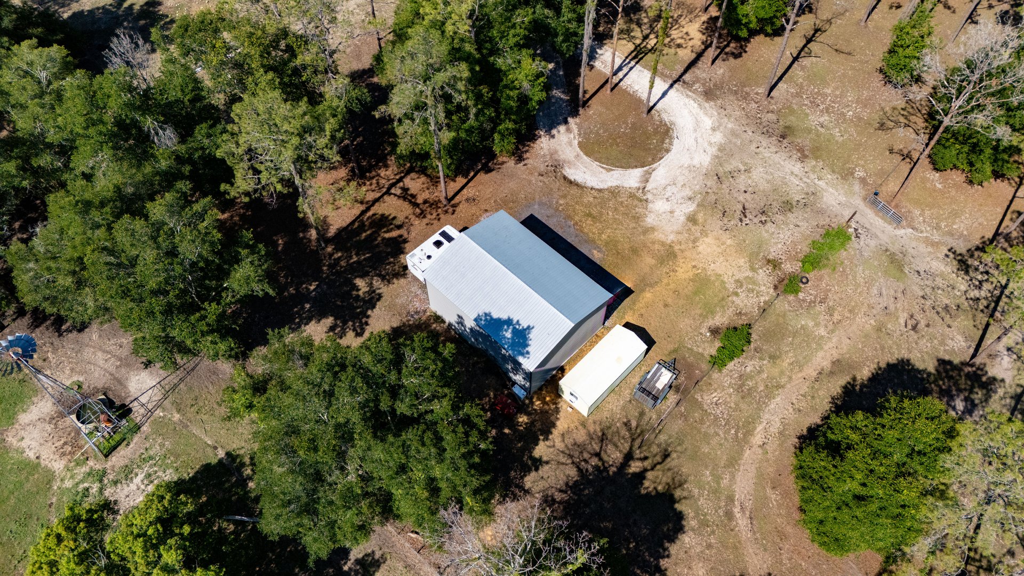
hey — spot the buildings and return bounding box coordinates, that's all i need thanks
[560,325,648,417]
[421,216,616,398]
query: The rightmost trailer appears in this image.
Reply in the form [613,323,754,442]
[635,358,681,408]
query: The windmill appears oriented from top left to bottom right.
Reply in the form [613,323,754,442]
[0,331,134,455]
